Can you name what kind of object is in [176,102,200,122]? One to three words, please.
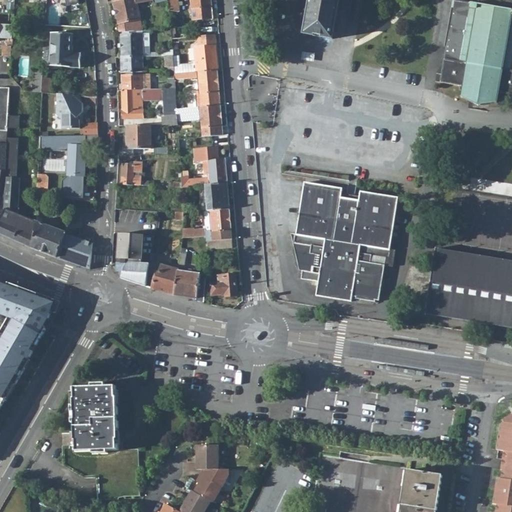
building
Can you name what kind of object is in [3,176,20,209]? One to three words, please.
shed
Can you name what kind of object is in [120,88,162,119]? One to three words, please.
house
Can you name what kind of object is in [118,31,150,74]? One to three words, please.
house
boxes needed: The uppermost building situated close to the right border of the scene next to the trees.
[436,0,512,112]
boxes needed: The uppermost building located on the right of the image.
[300,0,337,40]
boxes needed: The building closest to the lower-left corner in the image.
[62,380,118,454]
